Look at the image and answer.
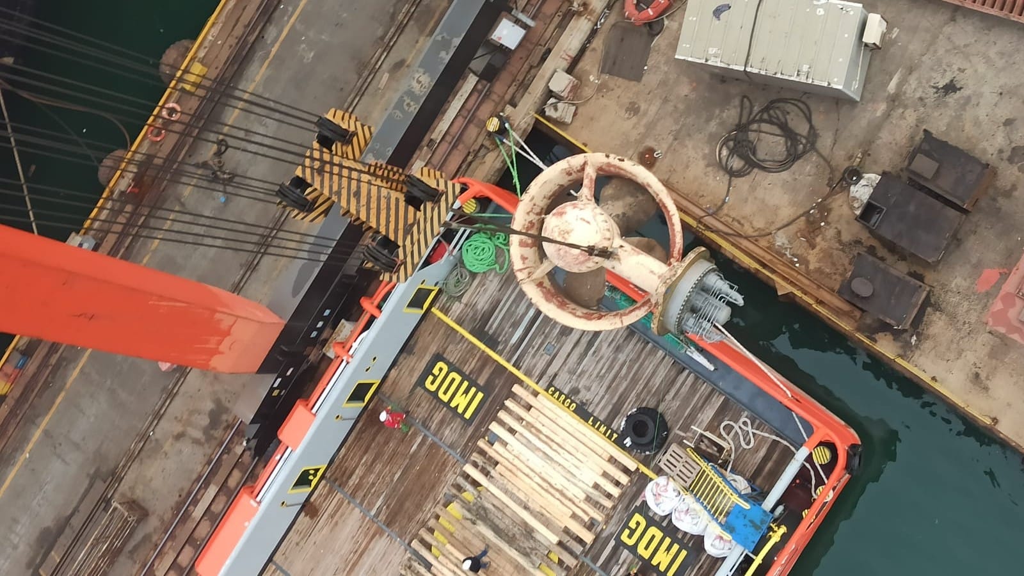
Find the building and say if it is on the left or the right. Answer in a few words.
right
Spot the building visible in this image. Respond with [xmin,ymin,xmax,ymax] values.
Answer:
[674,0,884,102]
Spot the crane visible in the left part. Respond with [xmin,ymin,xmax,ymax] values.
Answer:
[0,0,515,458]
